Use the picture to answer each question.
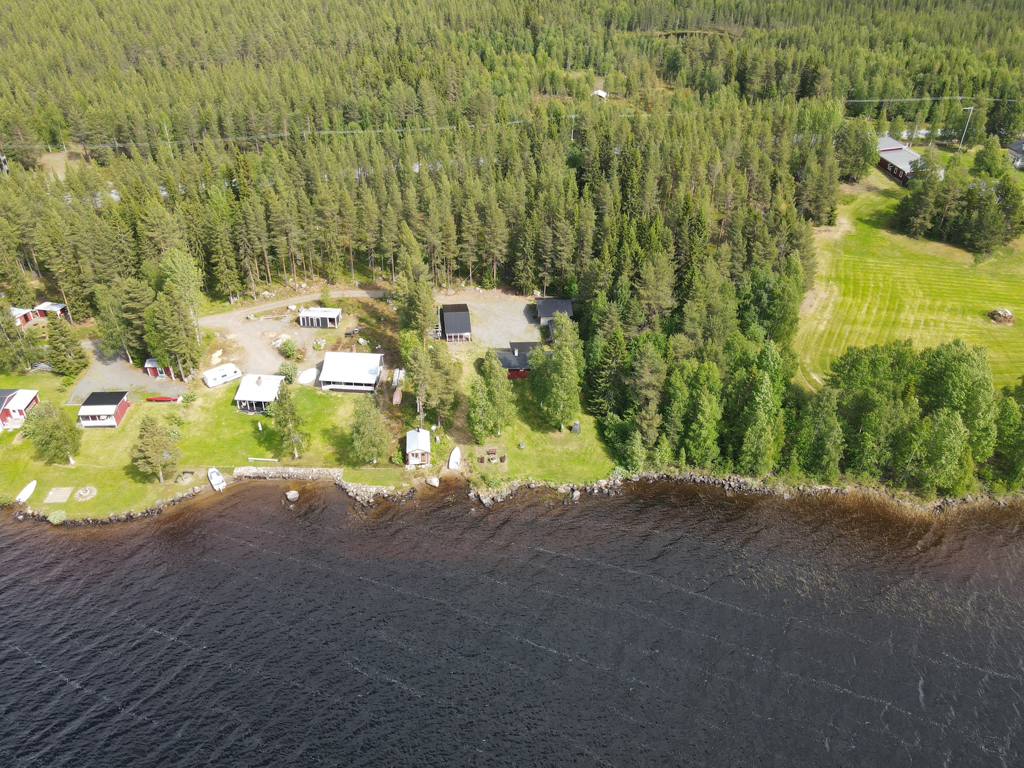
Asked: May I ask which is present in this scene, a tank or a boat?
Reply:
boat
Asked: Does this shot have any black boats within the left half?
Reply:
No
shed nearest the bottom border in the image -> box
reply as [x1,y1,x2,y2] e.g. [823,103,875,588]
[405,424,429,465]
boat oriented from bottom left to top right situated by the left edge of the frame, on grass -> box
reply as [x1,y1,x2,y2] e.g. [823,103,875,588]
[12,476,35,510]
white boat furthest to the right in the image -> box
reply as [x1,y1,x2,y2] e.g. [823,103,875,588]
[449,442,463,468]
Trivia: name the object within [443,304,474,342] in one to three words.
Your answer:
building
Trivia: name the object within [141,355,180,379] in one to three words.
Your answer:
shed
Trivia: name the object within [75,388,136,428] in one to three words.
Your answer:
building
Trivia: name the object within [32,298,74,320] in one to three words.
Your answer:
shed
